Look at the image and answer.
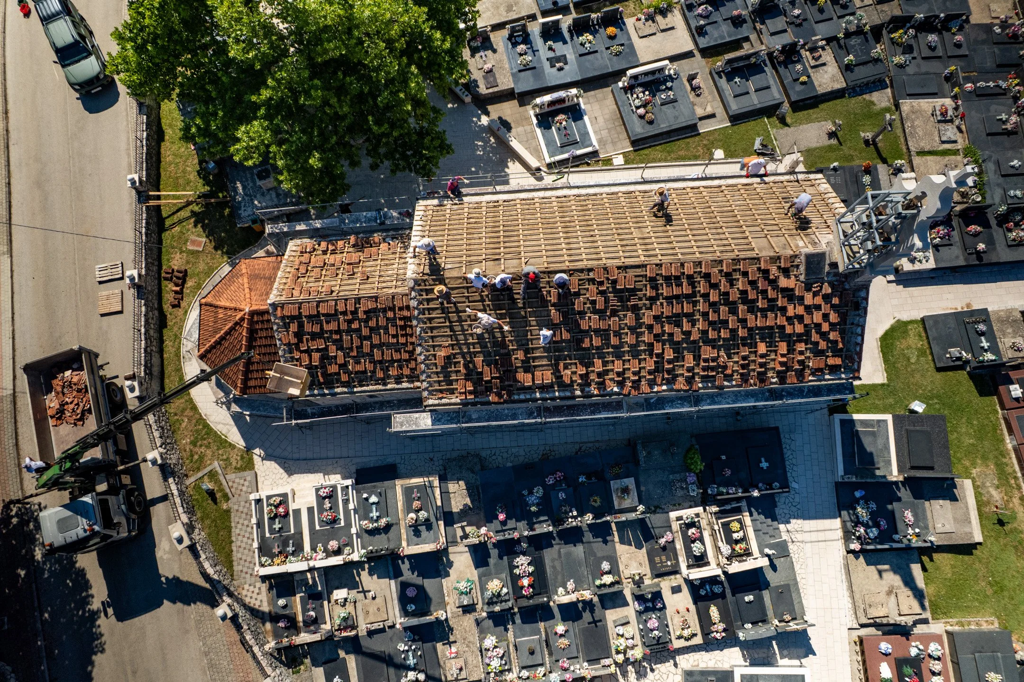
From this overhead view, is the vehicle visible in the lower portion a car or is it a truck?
truck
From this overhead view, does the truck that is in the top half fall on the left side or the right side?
left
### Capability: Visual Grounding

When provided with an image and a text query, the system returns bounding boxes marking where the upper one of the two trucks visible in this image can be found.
[47,0,114,98]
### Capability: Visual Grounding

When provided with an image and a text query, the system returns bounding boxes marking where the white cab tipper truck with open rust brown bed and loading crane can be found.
[9,347,279,580]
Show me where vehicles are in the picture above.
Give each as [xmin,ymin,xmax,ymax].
[47,0,114,98]
[9,347,279,580]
